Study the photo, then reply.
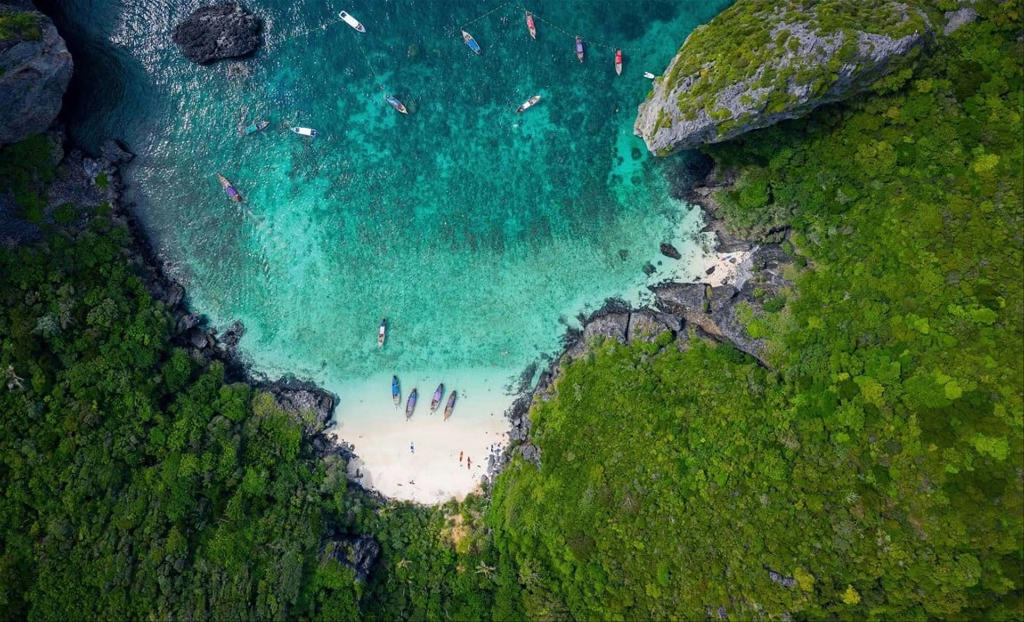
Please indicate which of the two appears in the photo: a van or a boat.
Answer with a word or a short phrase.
boat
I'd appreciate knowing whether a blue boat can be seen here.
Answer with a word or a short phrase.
Yes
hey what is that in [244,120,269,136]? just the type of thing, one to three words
boat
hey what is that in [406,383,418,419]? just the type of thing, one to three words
boat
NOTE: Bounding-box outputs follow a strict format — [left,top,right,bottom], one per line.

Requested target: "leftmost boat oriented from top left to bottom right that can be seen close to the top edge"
[339,10,365,32]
